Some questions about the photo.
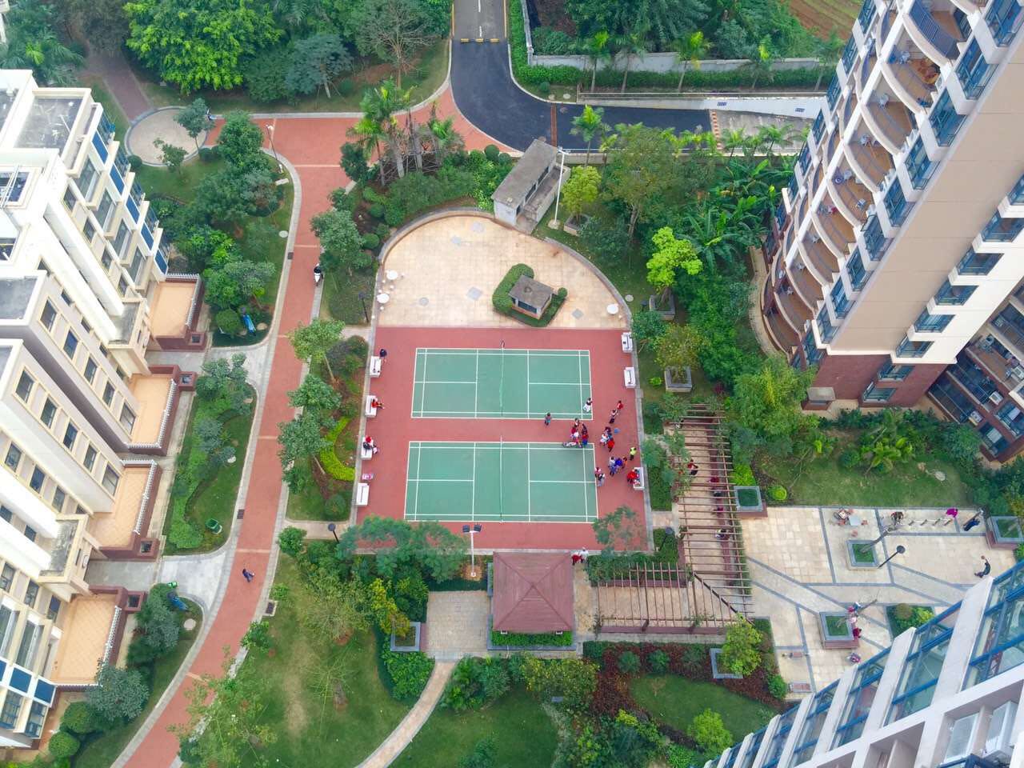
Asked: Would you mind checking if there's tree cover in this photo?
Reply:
Yes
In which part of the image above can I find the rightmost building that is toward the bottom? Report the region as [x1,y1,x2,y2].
[690,553,1024,768]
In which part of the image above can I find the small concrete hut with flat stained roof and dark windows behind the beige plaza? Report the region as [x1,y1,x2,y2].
[493,139,573,236]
